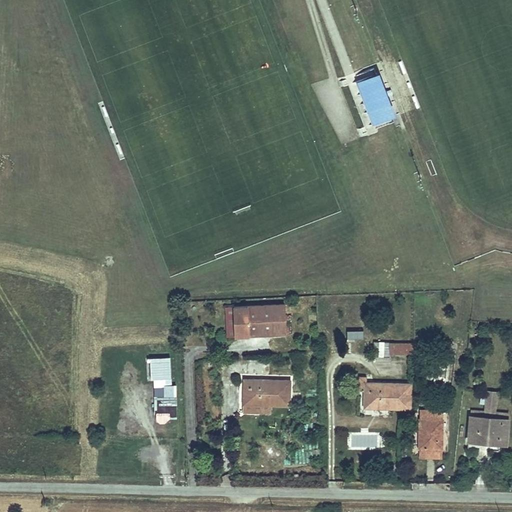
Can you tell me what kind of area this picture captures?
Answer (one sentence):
This image shows a sports ground.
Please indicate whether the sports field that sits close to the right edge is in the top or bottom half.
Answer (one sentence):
The sports field that sits close to the right edge is in the top half of the image.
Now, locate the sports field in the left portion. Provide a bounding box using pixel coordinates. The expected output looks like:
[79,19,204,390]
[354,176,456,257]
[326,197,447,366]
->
[63,0,340,276]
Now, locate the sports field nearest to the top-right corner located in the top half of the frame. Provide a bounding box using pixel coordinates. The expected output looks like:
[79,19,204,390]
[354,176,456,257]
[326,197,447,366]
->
[378,0,512,230]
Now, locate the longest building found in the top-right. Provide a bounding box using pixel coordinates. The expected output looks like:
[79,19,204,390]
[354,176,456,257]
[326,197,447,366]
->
[355,64,398,128]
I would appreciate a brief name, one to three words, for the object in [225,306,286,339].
house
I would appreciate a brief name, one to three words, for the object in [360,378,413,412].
house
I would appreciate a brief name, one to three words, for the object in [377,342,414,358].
building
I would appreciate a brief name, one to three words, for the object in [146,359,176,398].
shed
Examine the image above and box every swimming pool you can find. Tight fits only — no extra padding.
[348,428,382,450]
